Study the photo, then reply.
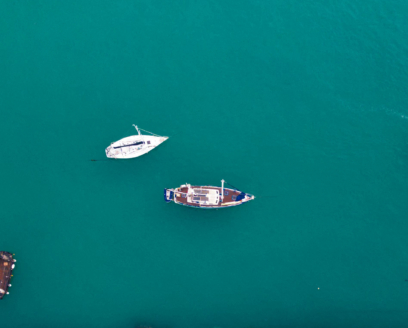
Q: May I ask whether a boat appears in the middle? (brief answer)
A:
Yes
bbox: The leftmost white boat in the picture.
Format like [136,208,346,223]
[104,124,169,160]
